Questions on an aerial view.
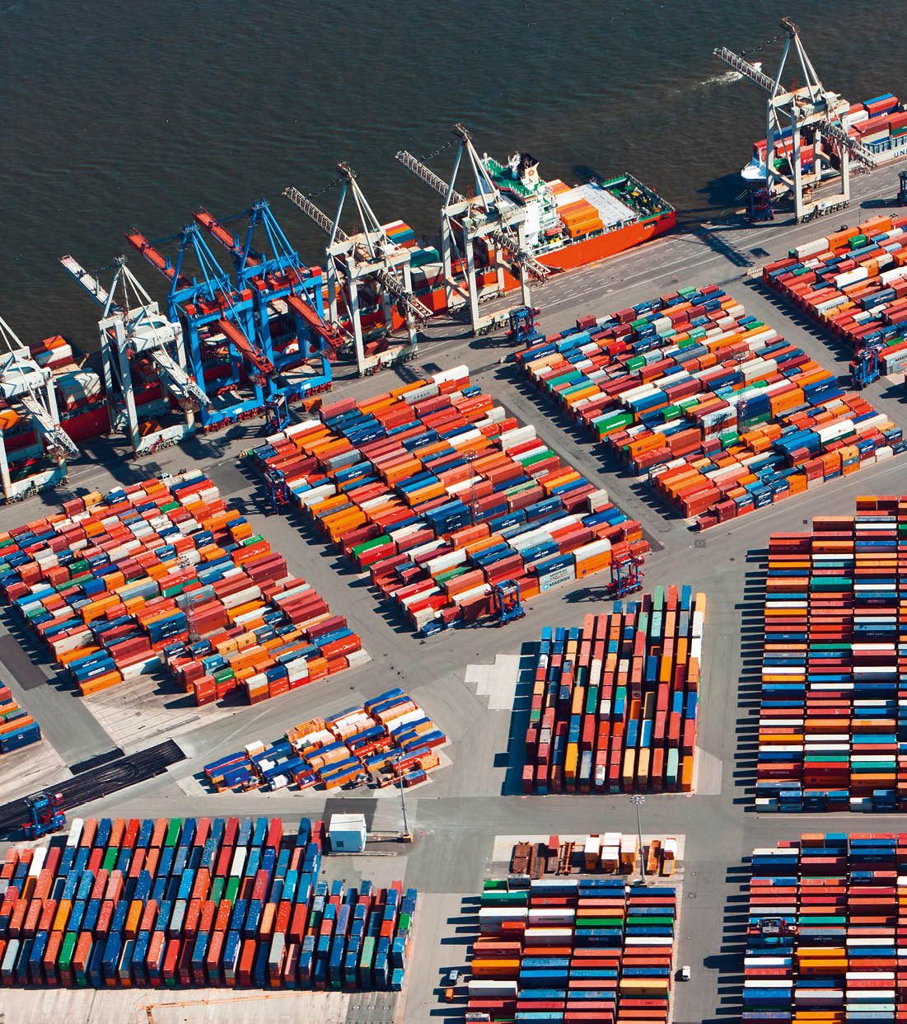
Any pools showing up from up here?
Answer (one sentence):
No, there is no pool in the image.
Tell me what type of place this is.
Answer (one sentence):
This image shows a port.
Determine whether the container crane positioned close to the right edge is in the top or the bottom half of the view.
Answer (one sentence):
The container crane positioned close to the right edge sits in the top half of the picture.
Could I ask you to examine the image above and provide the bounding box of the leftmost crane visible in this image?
[0,295,80,502]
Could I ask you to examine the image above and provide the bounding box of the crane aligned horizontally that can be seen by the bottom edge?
[127,988,322,1024]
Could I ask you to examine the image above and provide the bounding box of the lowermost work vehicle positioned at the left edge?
[21,783,67,839]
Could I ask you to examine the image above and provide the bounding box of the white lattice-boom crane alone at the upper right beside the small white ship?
[714,15,885,223]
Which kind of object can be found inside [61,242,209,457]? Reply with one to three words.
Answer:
container crane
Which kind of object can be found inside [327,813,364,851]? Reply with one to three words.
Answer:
shed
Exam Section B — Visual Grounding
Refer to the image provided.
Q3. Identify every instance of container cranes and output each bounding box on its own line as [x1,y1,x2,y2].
[125,223,285,432]
[61,242,209,457]
[195,199,357,405]
[395,122,556,336]
[714,15,885,223]
[0,295,80,502]
[282,160,439,376]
